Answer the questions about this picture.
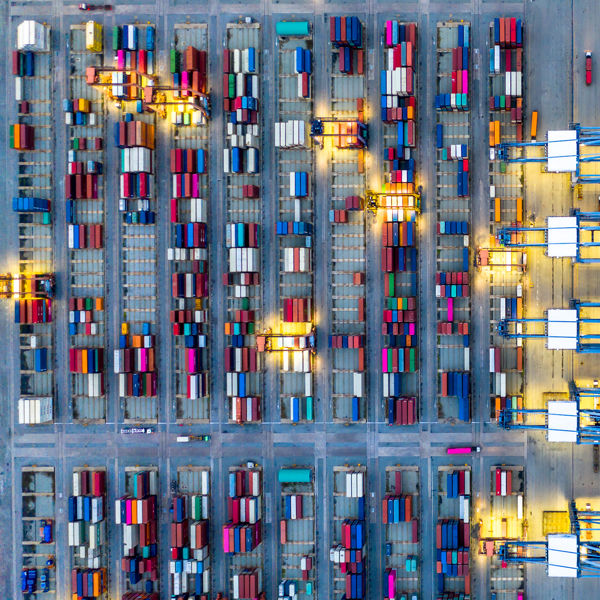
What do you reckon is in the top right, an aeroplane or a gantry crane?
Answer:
gantry crane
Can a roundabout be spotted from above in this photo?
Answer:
No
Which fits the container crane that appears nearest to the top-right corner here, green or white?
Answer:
white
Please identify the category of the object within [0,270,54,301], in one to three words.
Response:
container crane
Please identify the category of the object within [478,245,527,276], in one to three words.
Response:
container crane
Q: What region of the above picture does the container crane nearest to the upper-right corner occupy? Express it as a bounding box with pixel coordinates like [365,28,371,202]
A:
[494,122,600,200]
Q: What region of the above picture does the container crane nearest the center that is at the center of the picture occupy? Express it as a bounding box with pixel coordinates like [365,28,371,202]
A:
[254,324,316,356]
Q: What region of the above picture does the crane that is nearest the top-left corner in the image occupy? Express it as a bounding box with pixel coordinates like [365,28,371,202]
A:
[84,66,158,105]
